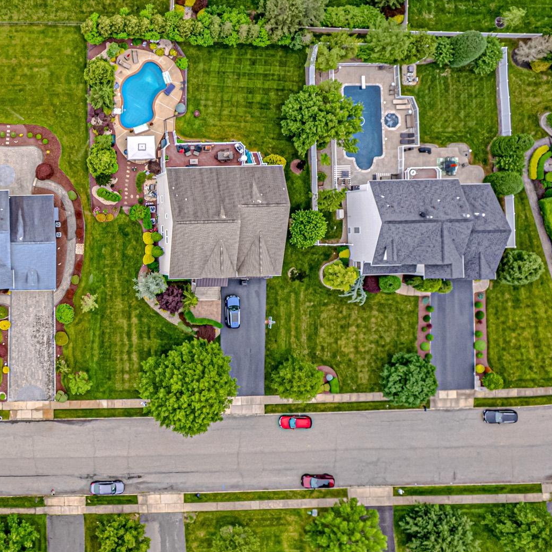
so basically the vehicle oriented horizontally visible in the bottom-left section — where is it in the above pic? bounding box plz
[89,479,125,496]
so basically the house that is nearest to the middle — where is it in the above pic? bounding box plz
[158,165,291,300]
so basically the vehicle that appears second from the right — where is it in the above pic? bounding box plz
[300,472,334,489]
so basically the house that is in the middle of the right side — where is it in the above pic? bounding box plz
[347,180,514,281]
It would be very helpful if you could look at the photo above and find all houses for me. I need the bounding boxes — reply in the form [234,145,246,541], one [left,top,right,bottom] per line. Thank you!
[347,180,514,281]
[158,165,291,300]
[0,190,57,291]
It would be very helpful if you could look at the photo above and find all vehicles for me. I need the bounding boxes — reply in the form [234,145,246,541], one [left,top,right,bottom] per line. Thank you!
[300,472,334,489]
[277,413,312,431]
[89,479,125,496]
[480,408,519,425]
[223,294,242,330]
